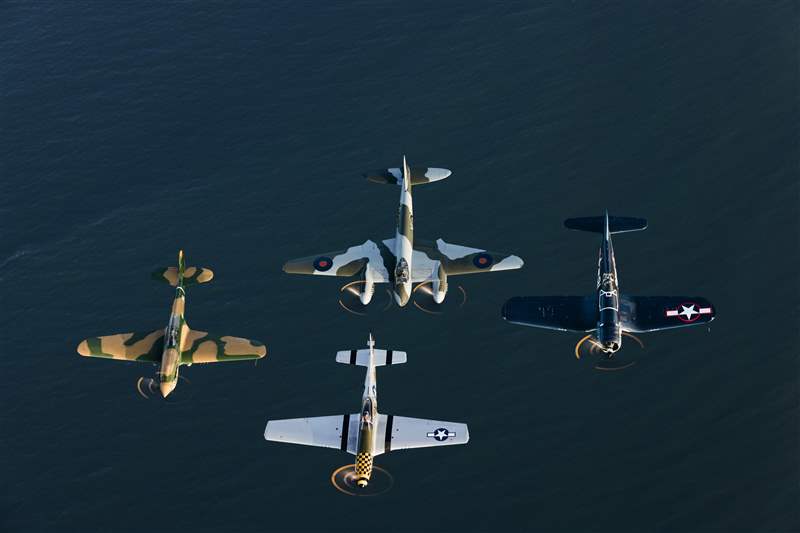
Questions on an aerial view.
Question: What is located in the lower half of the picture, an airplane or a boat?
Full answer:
The one visible in the lower half of the picture is an airplane.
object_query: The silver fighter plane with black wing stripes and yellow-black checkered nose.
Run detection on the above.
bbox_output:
[264,331,469,495]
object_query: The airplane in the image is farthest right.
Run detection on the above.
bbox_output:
[503,209,716,369]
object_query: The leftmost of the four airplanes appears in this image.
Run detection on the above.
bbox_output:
[77,250,266,405]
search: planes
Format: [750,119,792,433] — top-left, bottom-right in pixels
[77,250,266,405]
[503,209,716,369]
[282,154,523,317]
[264,331,469,495]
